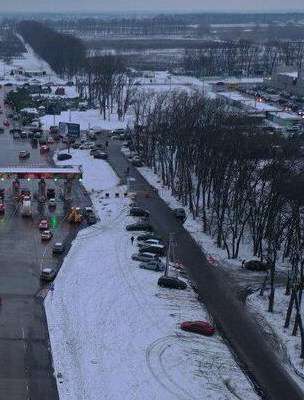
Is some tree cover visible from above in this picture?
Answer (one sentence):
Yes, tree cover can be seen from above here.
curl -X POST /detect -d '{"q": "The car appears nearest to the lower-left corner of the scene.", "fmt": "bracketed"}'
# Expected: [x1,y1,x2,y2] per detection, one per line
[41,265,56,278]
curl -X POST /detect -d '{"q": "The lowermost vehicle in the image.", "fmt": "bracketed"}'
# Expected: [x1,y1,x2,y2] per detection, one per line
[180,321,216,335]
